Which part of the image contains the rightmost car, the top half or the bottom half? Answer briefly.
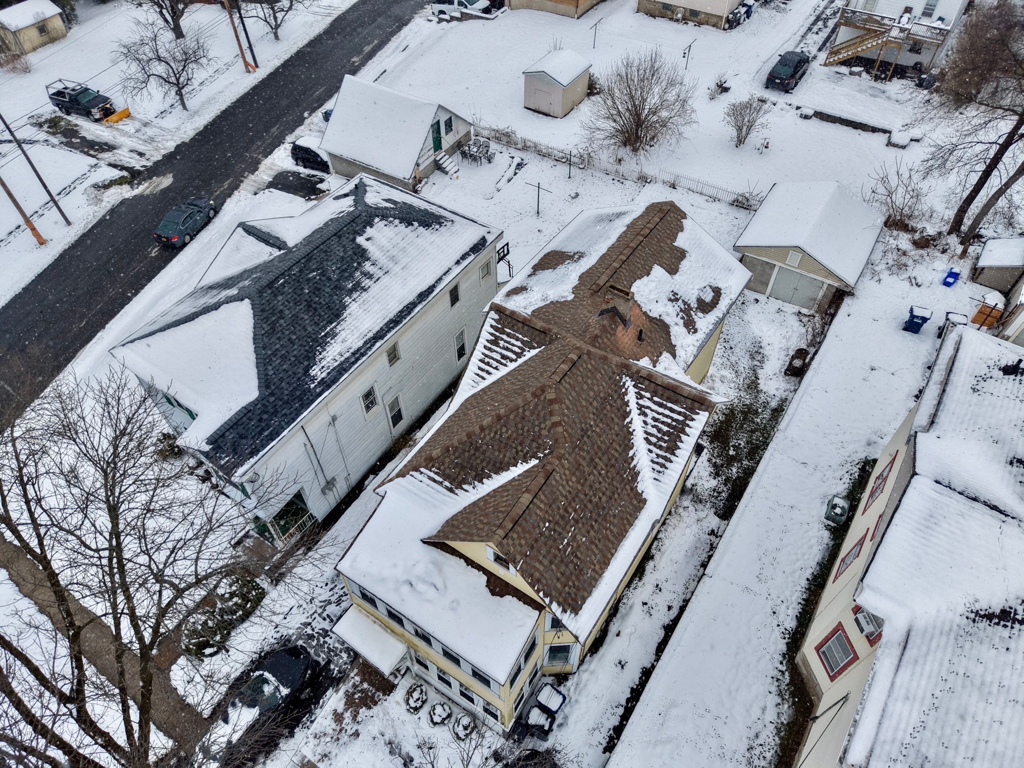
top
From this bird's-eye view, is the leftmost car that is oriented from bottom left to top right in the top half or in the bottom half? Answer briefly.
top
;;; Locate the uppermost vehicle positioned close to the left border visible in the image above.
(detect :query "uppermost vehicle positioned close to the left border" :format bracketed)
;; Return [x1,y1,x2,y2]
[41,76,131,128]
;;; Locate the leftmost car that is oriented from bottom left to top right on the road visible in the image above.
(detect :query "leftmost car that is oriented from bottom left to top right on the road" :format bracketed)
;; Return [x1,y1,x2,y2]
[151,193,216,246]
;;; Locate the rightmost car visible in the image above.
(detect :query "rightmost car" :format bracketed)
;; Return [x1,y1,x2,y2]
[774,50,808,85]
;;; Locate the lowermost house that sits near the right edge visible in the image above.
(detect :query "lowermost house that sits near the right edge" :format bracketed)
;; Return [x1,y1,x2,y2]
[799,321,1024,768]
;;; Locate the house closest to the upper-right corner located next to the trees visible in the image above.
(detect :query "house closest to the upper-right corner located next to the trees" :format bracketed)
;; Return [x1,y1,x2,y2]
[825,0,962,76]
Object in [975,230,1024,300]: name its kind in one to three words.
shed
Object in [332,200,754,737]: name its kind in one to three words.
house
